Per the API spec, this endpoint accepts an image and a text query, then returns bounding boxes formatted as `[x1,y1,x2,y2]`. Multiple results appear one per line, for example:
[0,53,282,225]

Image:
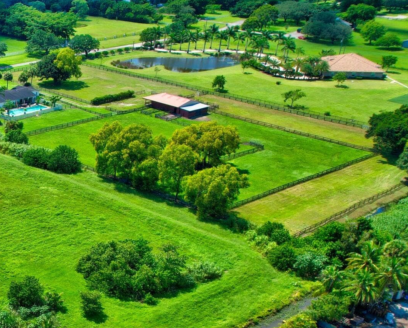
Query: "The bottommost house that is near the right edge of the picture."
[303,48,403,76]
